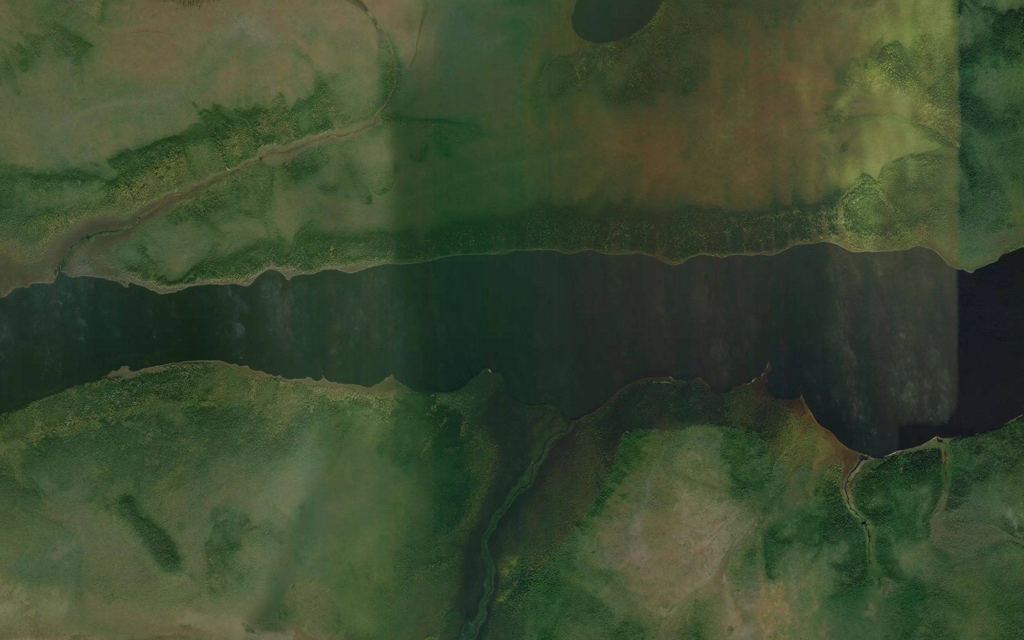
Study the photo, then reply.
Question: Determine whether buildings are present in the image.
No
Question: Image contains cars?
No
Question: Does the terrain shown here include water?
Yes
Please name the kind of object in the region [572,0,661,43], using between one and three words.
pond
